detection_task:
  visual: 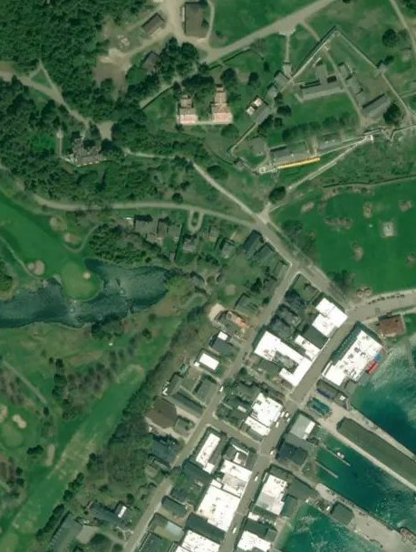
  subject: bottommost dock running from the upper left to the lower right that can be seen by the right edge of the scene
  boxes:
[311,483,415,552]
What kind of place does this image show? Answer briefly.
residential area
